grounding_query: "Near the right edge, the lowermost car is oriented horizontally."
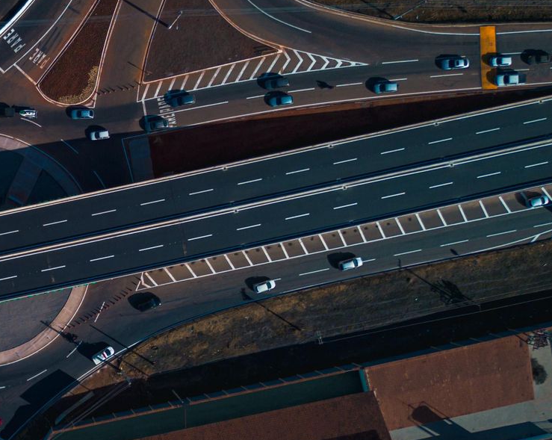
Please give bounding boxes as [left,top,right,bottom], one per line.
[523,194,550,208]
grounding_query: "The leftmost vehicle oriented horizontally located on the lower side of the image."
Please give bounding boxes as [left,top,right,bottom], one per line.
[135,295,161,310]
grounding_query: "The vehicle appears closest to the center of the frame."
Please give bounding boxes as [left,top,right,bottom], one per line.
[252,279,275,293]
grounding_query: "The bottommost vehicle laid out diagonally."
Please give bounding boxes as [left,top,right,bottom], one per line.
[90,344,117,366]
